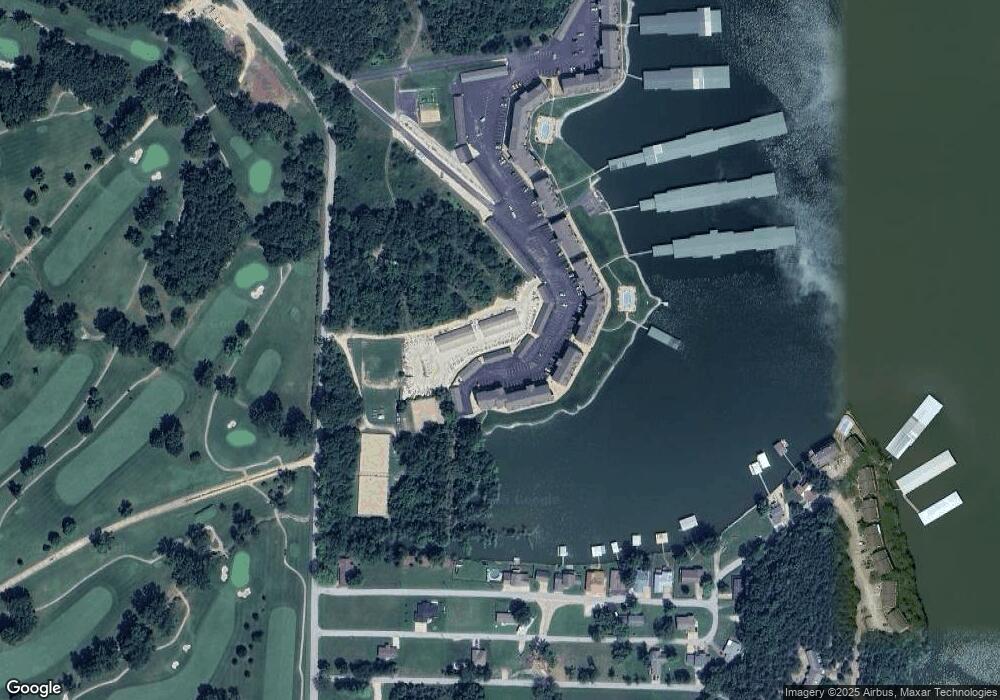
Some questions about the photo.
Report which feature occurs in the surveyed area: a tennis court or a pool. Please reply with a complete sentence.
Visible in the photo is a pool.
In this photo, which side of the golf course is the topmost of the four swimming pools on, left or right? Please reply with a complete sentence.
It is on the right side of the golf course that the topmost of the four swimming pools is positioned.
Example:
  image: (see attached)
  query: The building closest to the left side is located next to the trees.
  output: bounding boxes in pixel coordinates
[338,560,353,590]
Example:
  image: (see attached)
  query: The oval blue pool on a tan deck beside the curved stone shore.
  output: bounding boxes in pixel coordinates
[535,116,556,144]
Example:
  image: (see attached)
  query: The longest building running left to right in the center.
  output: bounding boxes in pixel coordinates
[477,383,552,409]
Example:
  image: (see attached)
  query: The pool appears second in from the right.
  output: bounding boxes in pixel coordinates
[617,285,637,312]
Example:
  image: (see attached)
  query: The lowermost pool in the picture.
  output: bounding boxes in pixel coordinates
[487,567,502,581]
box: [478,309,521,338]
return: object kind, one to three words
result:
shed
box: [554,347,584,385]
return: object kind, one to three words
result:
building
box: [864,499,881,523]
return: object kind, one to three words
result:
building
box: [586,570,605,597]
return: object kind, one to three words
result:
house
